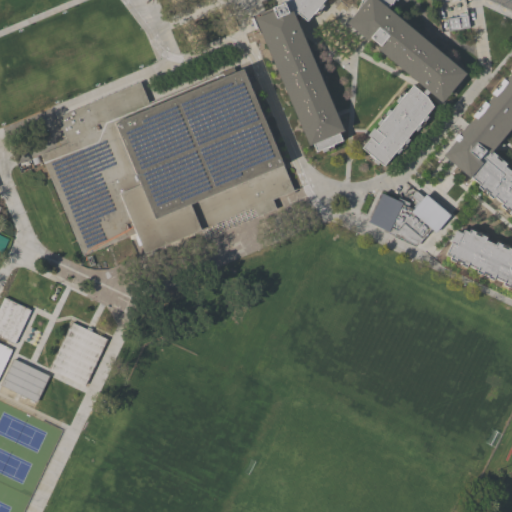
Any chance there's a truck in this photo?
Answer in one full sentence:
No, there is no truck in the image.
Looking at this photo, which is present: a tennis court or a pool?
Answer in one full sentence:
Looking from above, you can make out a tennis court.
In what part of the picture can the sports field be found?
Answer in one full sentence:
Look in the bottom portion of the view to spot the sports field.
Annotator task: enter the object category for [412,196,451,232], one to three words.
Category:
building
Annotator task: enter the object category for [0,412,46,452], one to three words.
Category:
tennis court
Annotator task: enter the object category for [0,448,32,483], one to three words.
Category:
tennis court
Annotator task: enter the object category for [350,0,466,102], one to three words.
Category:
building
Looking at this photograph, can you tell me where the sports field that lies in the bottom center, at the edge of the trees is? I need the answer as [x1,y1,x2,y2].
[95,240,508,512]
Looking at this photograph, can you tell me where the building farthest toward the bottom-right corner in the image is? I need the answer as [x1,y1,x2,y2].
[447,230,512,288]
